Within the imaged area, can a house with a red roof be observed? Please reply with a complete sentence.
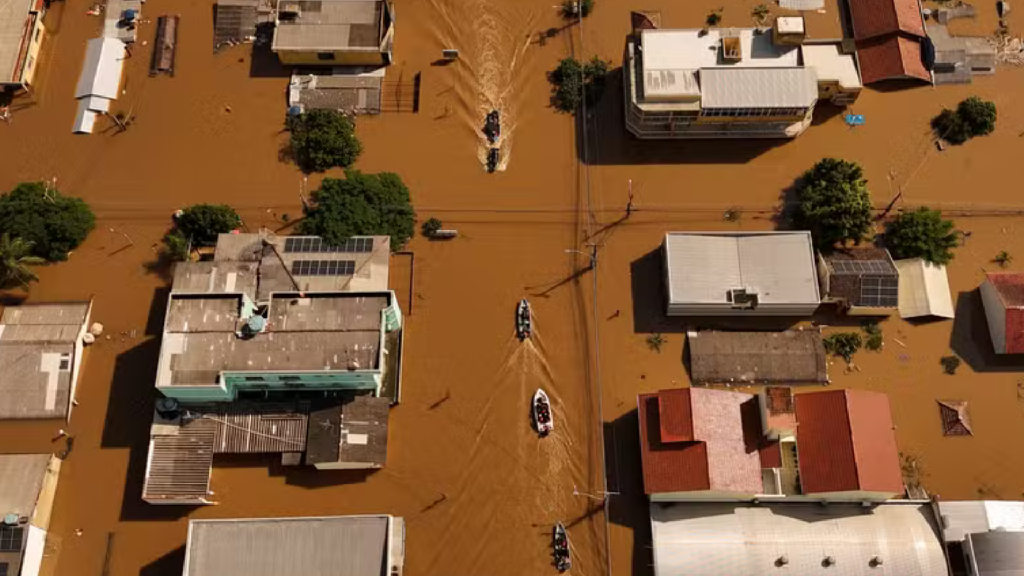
Yes, looking at the shot, I can spot a house with a red roof.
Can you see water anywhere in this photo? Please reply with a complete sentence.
Yes, water shows up in the scene.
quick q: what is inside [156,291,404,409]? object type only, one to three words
building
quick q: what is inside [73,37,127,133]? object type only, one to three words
shed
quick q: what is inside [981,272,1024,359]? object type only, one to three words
house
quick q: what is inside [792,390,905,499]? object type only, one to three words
house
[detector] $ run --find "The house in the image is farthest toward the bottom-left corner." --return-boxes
[0,455,62,576]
